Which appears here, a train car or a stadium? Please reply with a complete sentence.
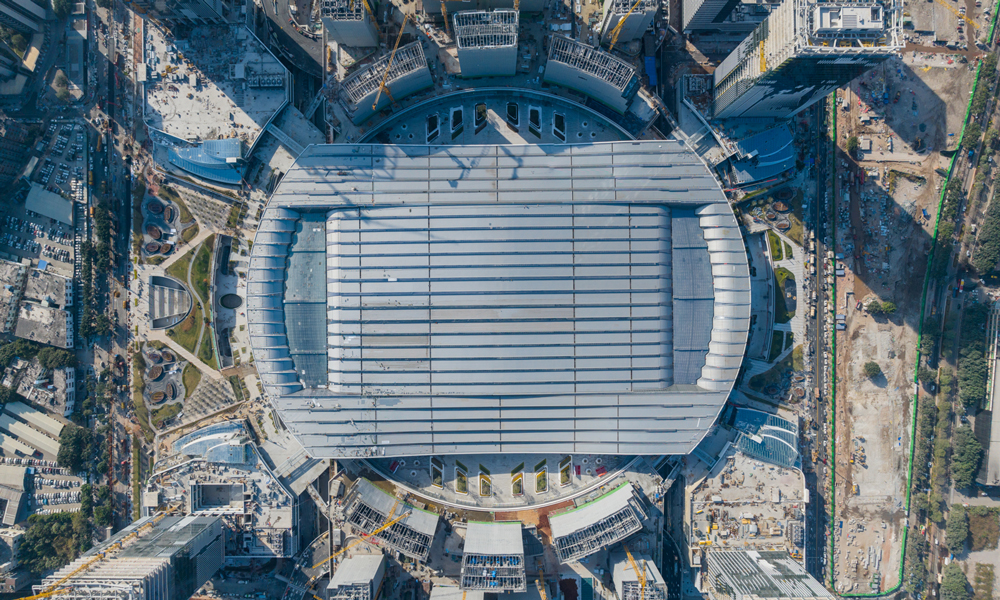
The image shows a stadium.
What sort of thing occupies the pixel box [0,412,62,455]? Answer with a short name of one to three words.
shed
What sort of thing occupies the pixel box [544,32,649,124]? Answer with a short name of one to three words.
building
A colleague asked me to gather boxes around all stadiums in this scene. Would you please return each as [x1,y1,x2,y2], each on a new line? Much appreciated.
[246,139,752,460]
